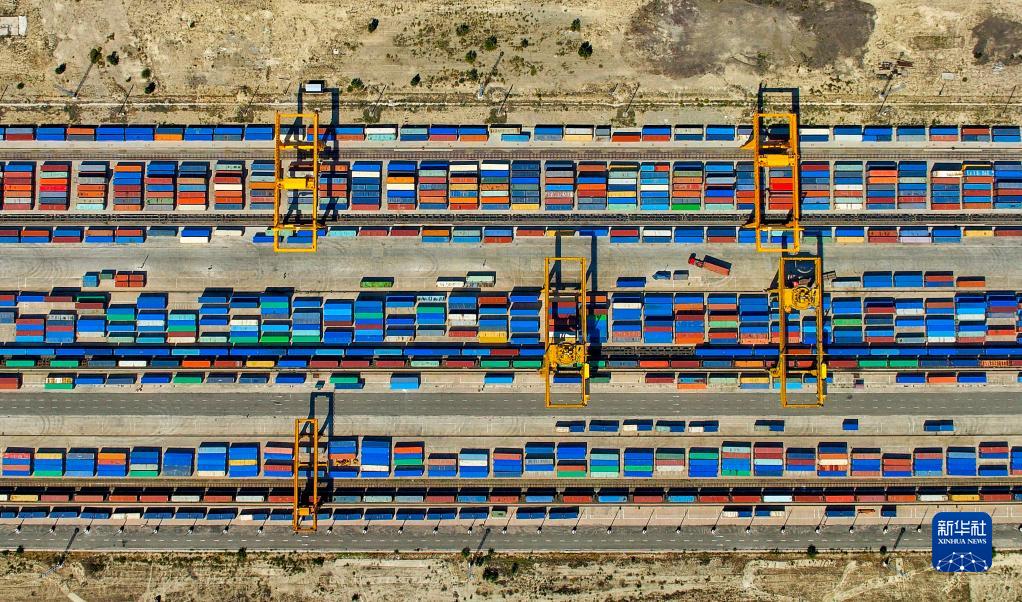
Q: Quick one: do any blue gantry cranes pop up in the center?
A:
No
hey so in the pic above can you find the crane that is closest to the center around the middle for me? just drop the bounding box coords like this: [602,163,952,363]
[537,259,592,405]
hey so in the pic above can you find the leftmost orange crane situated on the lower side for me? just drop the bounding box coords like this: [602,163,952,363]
[292,419,326,532]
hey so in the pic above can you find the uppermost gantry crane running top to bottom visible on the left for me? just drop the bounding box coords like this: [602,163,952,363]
[274,115,331,251]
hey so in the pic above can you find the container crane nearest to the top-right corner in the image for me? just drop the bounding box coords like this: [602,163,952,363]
[739,115,798,251]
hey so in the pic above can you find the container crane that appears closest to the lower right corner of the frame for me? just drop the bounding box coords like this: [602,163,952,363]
[765,259,827,405]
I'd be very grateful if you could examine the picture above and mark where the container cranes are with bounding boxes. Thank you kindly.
[537,259,592,405]
[739,115,798,251]
[765,259,827,405]
[274,115,331,251]
[292,419,326,532]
